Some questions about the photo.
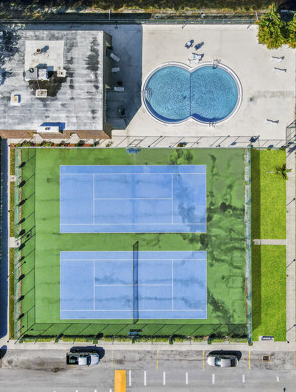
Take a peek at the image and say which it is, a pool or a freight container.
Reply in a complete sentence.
There is a pool in the scene.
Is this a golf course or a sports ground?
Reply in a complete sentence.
The picture captures a sports ground.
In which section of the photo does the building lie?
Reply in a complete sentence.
The building is in the top left part of the image.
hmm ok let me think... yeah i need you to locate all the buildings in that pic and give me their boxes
[0,30,111,139]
